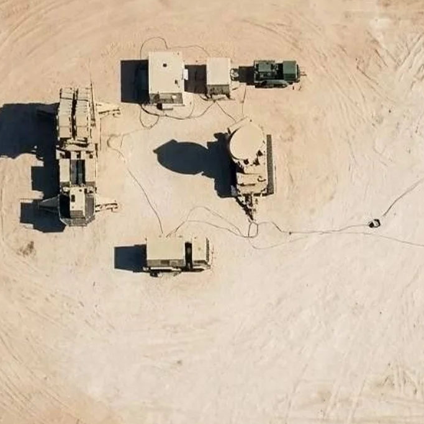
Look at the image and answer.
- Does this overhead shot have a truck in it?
Yes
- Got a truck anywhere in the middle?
Yes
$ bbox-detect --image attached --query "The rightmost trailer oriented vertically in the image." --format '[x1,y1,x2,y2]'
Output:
[226,117,275,220]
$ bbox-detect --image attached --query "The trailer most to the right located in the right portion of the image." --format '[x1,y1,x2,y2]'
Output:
[254,58,307,87]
